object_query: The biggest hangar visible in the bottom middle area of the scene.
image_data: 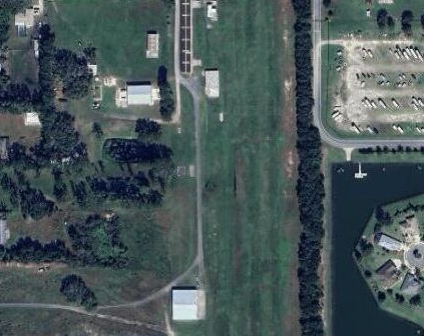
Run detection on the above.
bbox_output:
[172,290,197,320]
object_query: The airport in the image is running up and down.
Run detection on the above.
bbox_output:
[205,0,295,336]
